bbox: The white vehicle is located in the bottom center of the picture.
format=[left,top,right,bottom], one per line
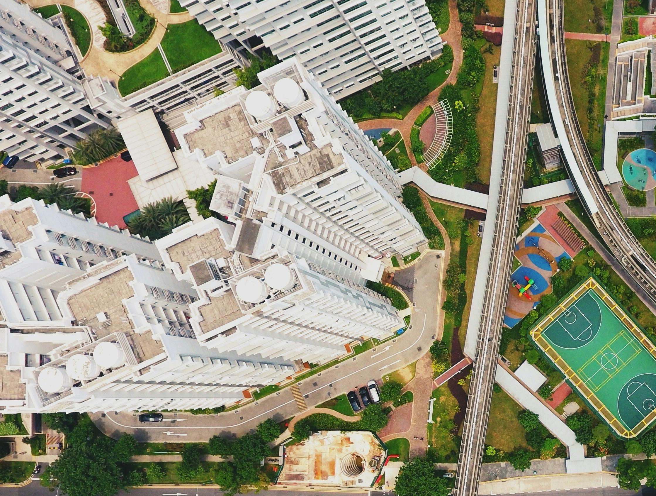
[367,380,381,402]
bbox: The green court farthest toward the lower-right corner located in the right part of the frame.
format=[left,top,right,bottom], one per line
[527,273,656,440]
